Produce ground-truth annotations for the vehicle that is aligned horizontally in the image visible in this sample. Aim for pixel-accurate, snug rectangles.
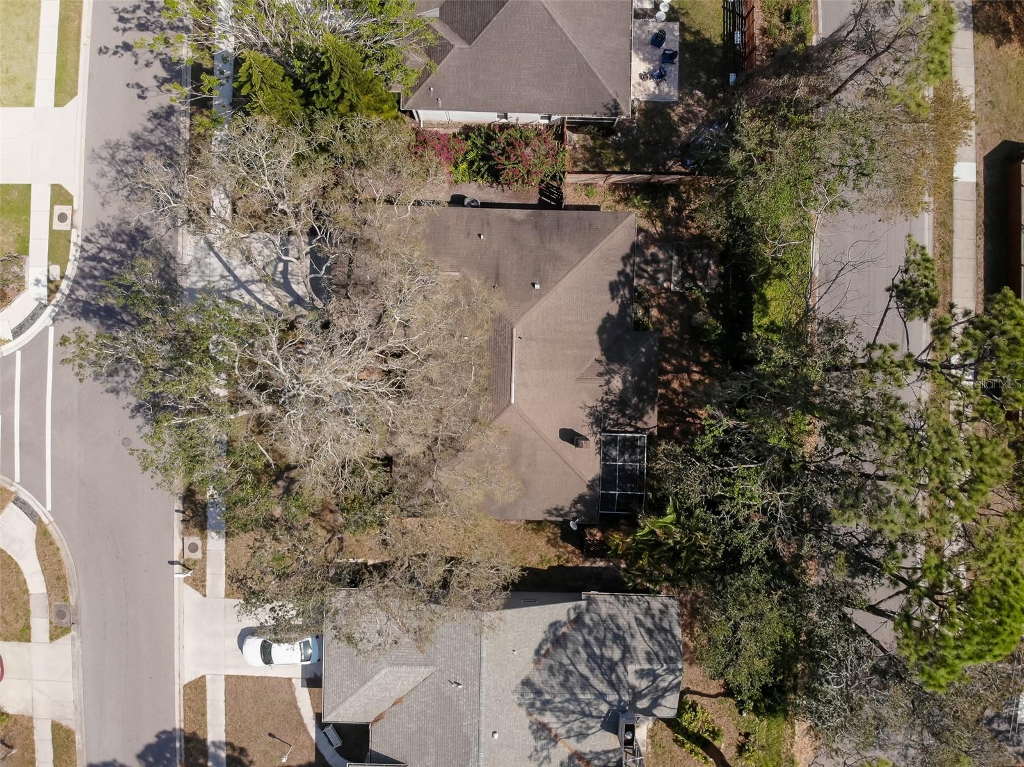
[247,633,321,670]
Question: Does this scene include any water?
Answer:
No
